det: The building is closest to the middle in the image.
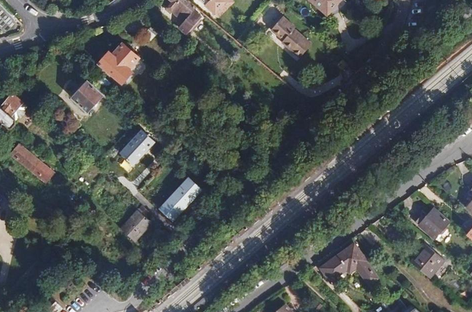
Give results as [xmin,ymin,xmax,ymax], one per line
[159,178,201,221]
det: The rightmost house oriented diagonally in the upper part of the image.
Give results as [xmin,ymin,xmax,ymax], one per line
[272,15,312,54]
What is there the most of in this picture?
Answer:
trees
